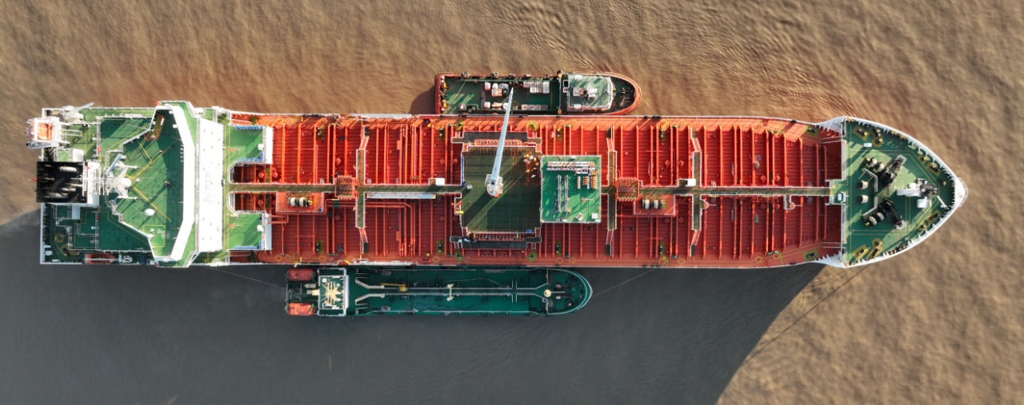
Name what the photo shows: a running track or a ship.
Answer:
ship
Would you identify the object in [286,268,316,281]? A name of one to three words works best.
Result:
boat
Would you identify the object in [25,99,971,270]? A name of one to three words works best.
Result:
ship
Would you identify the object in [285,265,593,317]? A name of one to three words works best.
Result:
ship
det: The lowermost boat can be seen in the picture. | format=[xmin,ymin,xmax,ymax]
[286,302,316,316]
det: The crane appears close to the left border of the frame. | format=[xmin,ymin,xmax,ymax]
[51,101,95,126]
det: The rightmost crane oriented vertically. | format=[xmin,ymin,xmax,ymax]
[480,89,513,206]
